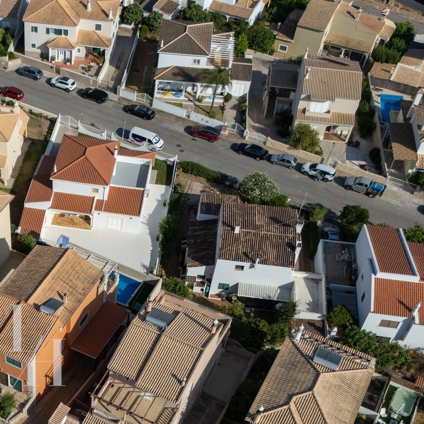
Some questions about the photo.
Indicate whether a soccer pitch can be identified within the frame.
No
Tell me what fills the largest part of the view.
buildings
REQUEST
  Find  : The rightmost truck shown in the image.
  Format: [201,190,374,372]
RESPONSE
[343,174,387,197]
